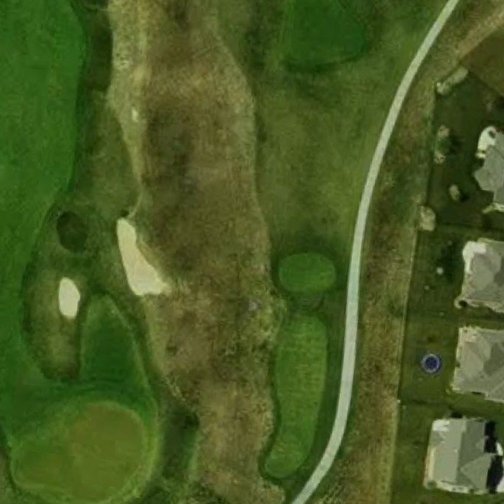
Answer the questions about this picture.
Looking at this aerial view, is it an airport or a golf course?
golf course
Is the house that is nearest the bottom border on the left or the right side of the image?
right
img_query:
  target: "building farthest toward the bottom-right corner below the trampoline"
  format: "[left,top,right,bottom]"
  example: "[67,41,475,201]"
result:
[430,419,494,495]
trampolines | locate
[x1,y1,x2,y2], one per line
[422,353,440,372]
